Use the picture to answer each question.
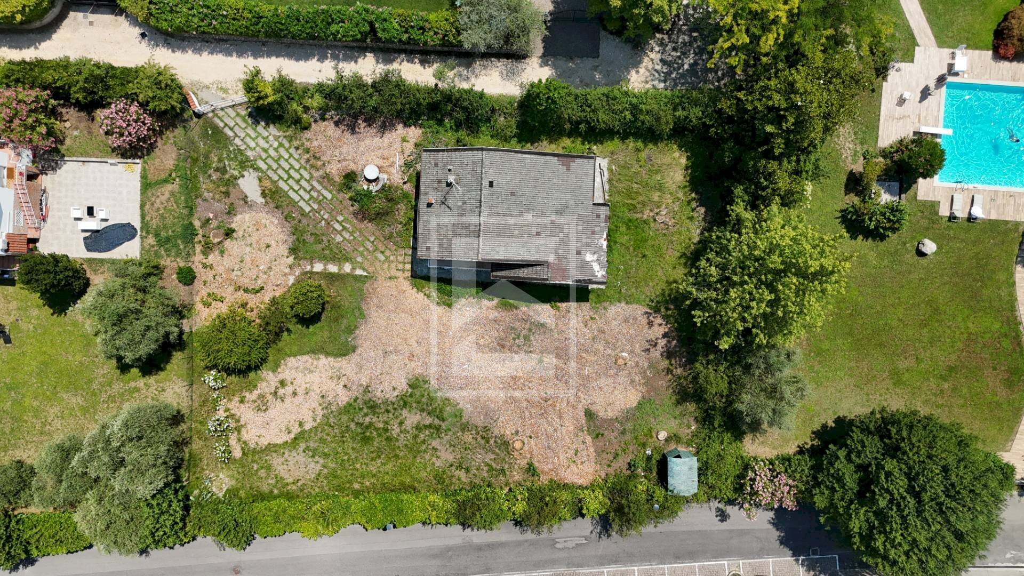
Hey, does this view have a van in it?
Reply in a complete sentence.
No, the scene contains no van.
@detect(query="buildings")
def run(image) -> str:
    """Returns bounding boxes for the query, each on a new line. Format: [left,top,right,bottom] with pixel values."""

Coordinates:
[663,445,697,493]
[411,147,610,292]
[0,140,50,270]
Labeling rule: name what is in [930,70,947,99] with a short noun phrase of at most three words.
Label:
umbrella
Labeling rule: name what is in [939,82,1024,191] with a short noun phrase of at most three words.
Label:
swimming pool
